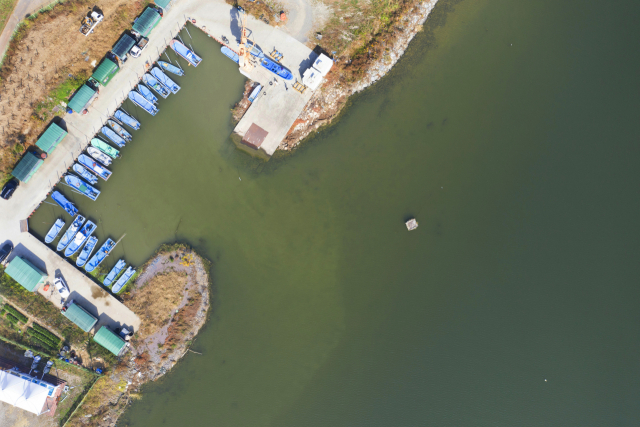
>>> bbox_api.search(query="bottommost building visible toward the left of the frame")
[0,354,66,416]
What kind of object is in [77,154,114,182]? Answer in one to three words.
boat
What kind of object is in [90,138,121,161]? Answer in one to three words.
boat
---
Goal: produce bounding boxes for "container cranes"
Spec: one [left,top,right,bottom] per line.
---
[236,11,256,81]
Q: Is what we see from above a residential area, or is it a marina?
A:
marina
